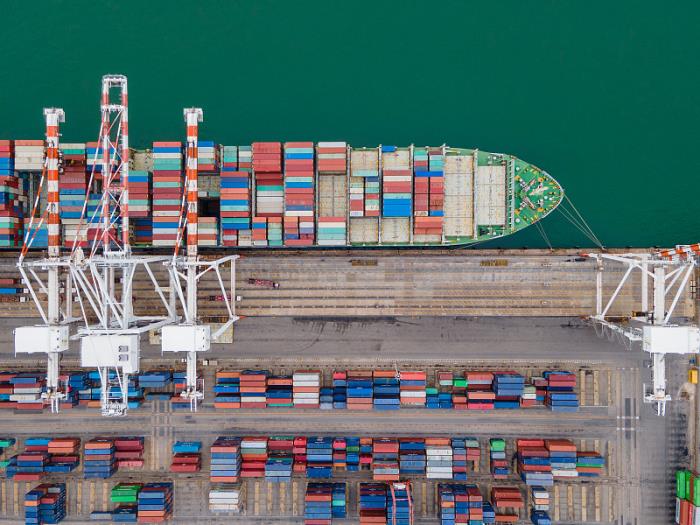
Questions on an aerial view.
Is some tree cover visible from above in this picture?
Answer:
No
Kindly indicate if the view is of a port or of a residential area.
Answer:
port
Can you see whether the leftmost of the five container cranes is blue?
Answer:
No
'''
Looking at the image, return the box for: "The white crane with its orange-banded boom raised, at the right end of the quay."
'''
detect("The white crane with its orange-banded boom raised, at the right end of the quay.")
[576,244,700,406]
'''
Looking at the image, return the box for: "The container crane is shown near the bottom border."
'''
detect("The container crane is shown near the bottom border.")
[386,481,416,525]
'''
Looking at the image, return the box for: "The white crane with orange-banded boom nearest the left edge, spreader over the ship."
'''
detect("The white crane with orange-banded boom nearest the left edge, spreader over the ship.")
[11,107,125,406]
